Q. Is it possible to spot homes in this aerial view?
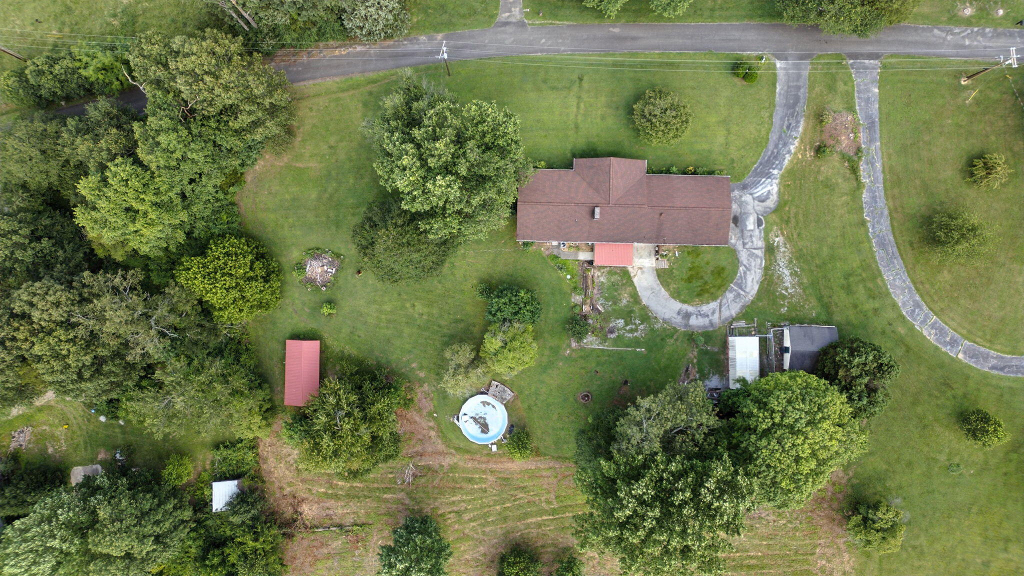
Yes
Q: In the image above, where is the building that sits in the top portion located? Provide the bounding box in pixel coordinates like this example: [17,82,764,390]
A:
[516,158,731,266]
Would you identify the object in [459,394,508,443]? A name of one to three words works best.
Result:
swimming pool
